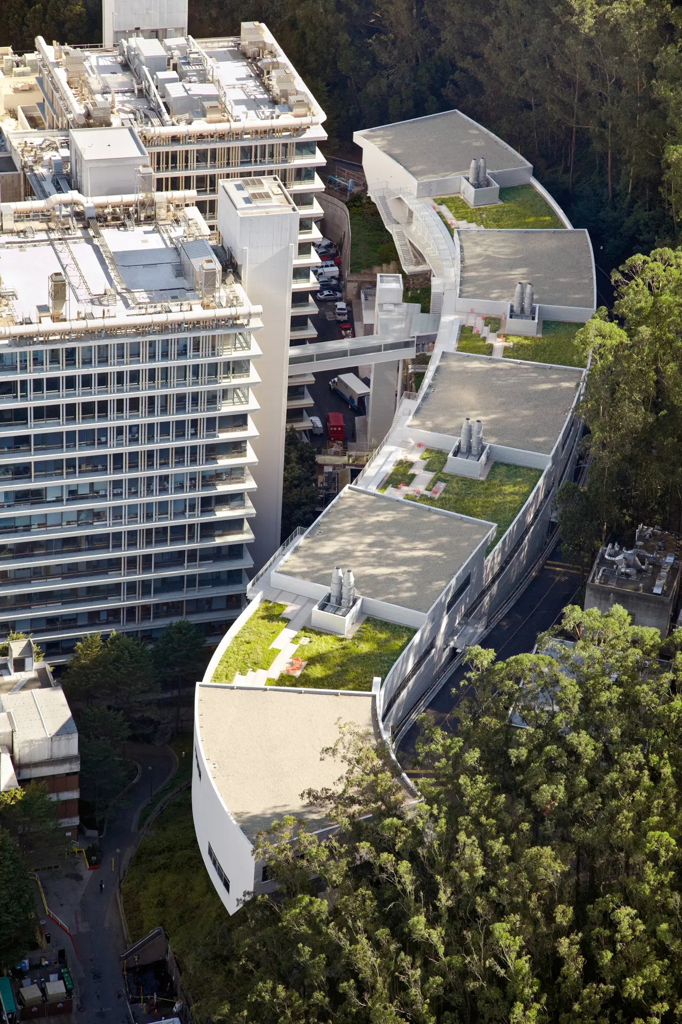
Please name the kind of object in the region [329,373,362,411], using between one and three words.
truck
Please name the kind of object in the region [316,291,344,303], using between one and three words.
vehicle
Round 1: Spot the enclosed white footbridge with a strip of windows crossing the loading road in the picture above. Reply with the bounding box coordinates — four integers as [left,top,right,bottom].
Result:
[291,327,417,376]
